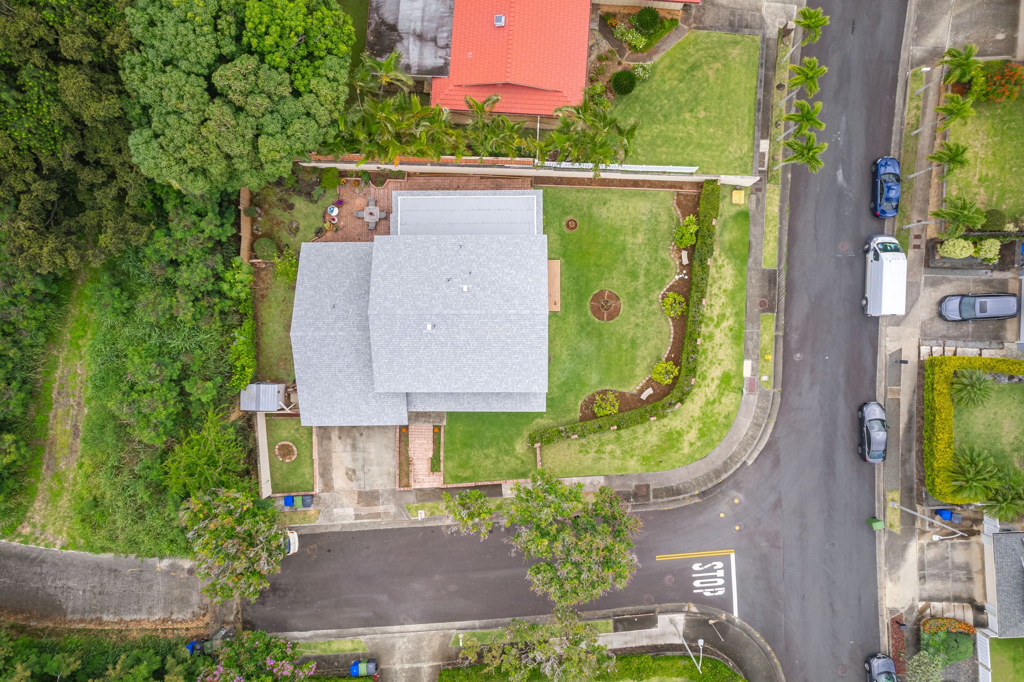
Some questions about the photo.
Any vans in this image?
Yes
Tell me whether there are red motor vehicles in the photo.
No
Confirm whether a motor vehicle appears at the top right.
Yes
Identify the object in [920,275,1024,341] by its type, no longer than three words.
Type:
car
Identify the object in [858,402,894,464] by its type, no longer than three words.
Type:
car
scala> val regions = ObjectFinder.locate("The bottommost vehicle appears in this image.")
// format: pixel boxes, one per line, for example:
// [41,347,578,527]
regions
[865,652,902,682]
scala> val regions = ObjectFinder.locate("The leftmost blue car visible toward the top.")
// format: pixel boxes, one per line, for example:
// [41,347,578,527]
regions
[870,154,907,216]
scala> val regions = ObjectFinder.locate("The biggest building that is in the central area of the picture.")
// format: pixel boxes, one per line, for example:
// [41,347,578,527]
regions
[290,190,549,426]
